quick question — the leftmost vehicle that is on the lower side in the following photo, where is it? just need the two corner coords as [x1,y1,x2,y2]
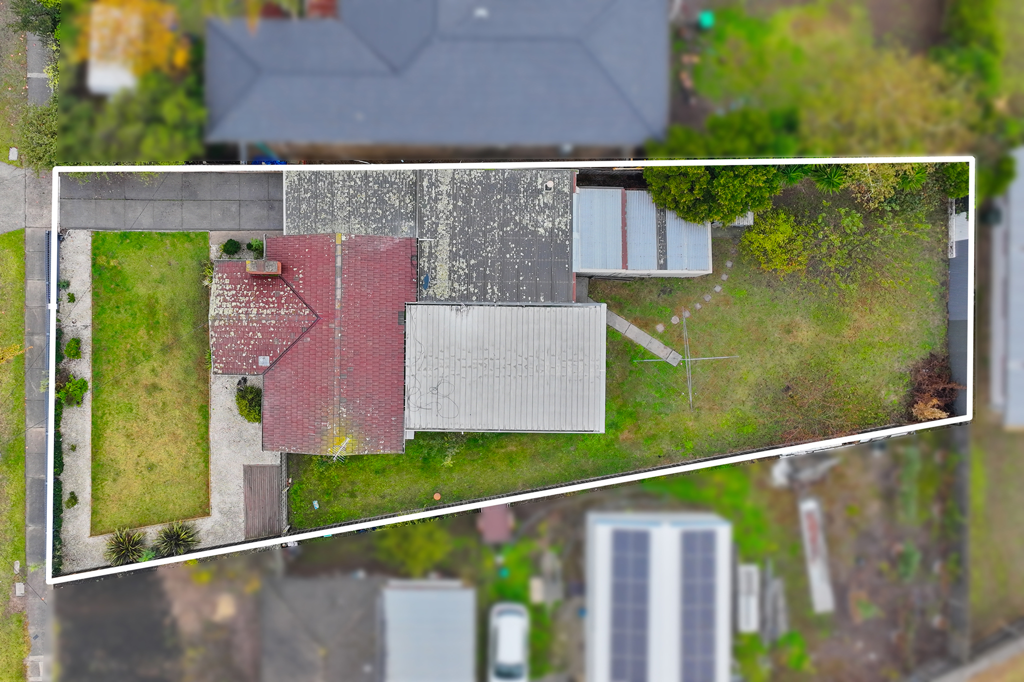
[488,608,530,682]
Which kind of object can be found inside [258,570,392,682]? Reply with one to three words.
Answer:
house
